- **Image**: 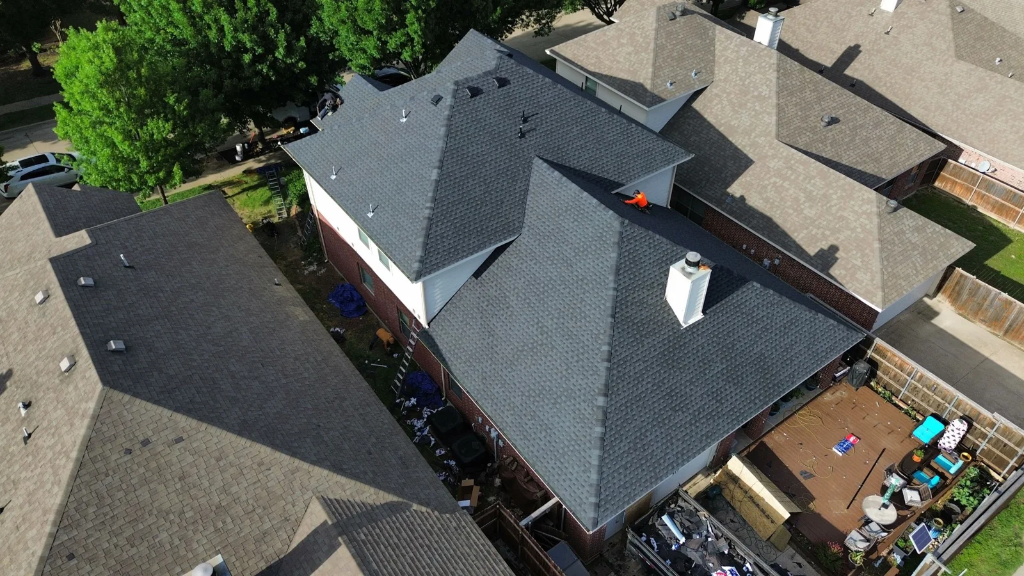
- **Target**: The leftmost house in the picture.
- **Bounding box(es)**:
[0,172,513,576]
